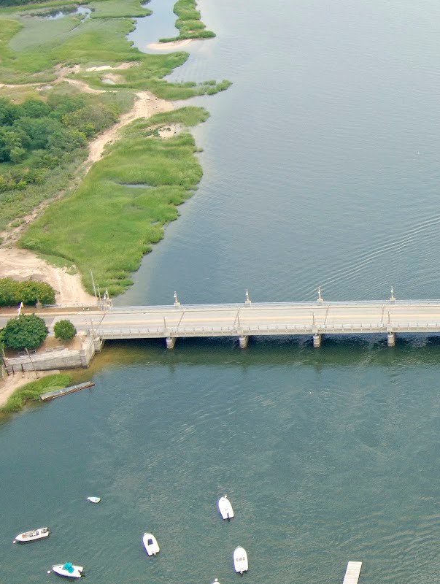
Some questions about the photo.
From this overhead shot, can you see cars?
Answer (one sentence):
No, there is no car in the image.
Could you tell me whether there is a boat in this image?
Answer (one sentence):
Yes, this view includes a boat.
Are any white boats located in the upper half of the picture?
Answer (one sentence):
No, I see no white boat in the upper half of the picture.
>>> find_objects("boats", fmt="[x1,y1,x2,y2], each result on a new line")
[89,497,101,504]
[219,494,234,522]
[52,561,87,579]
[16,528,52,543]
[142,532,161,560]
[233,543,248,576]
